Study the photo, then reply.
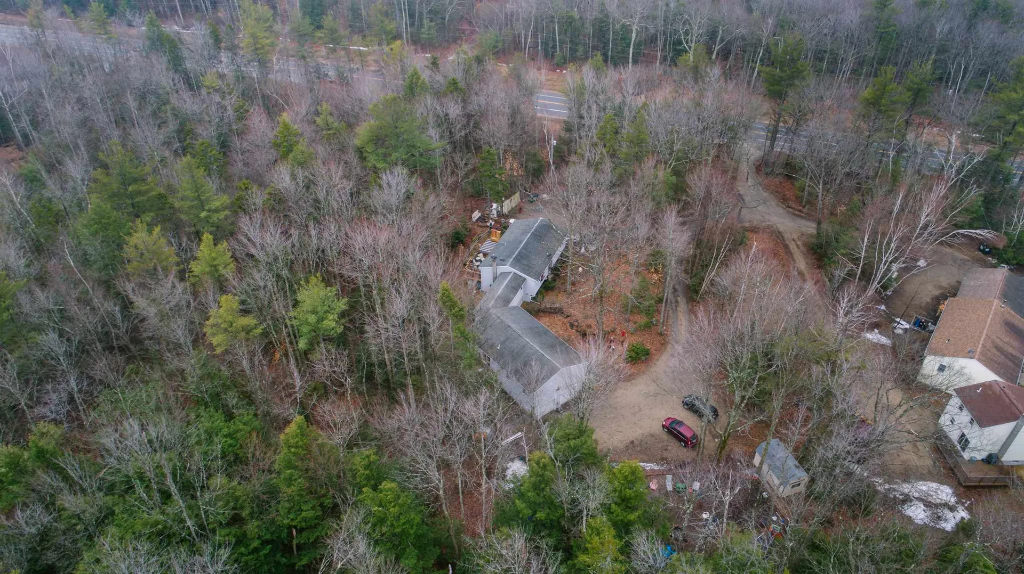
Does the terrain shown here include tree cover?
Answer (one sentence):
Yes, tree cover shows up in the scene.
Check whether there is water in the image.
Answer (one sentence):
No, water can't be seen anywhere here.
